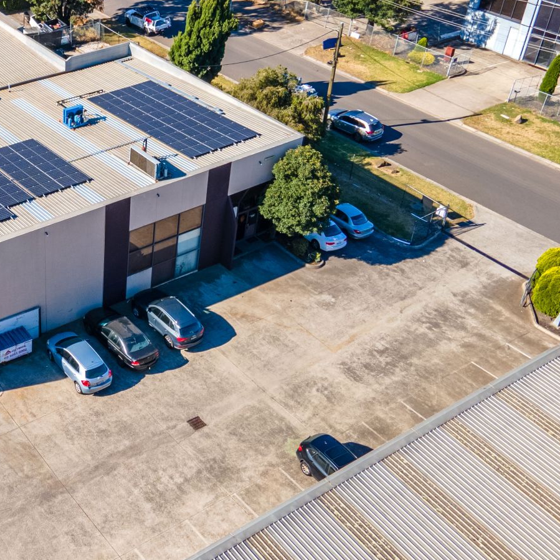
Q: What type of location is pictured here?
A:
industrial area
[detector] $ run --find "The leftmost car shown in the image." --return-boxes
[42,331,108,389]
